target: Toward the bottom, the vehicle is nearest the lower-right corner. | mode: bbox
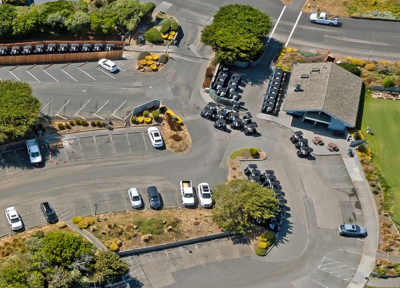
[338,224,366,238]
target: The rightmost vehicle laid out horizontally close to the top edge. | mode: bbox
[311,14,337,27]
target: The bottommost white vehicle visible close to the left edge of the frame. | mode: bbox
[5,207,22,230]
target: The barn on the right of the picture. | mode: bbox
[283,61,362,137]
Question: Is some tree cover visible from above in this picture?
Yes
